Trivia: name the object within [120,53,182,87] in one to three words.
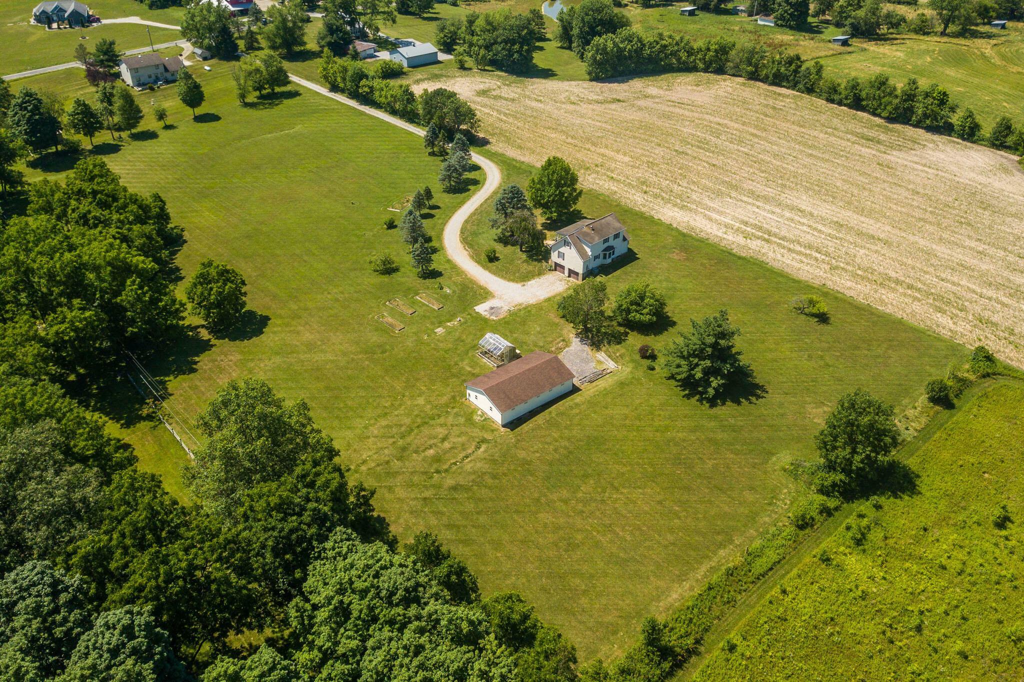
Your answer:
house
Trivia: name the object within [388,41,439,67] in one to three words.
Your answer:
barn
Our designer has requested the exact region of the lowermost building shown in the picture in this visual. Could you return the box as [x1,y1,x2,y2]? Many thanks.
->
[464,351,577,427]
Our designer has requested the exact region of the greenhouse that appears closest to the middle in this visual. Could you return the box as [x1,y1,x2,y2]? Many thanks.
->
[477,333,519,367]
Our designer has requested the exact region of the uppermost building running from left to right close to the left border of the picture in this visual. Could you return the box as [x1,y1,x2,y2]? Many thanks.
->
[29,4,94,28]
